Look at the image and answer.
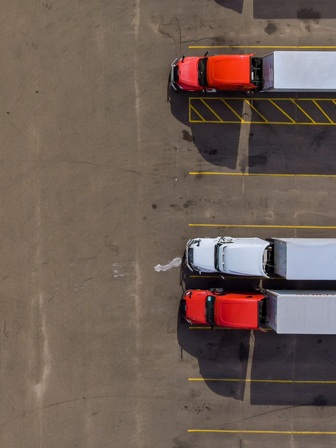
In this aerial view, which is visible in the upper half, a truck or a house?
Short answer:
truck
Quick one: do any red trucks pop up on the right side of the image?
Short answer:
Yes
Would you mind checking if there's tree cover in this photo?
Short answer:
No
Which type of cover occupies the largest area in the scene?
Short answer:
paved ground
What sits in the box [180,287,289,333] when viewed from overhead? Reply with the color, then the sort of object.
red truck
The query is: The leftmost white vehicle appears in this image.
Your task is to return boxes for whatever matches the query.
[184,234,286,280]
